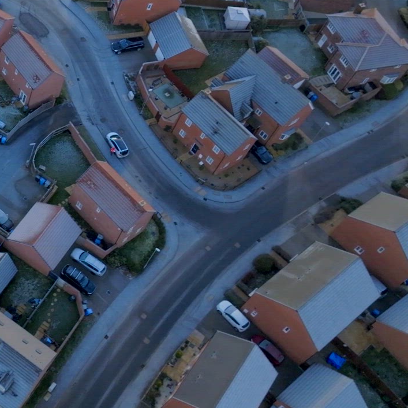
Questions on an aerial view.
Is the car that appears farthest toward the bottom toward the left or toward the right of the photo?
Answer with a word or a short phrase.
right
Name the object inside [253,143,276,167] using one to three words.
car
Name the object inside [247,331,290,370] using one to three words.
car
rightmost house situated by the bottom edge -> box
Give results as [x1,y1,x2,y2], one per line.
[353,297,408,394]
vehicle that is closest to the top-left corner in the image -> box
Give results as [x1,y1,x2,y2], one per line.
[113,37,144,52]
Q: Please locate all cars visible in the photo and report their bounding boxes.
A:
[0,208,15,231]
[105,131,131,159]
[60,263,98,295]
[215,301,252,333]
[247,331,290,370]
[70,248,109,277]
[253,143,276,167]
[113,37,144,52]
